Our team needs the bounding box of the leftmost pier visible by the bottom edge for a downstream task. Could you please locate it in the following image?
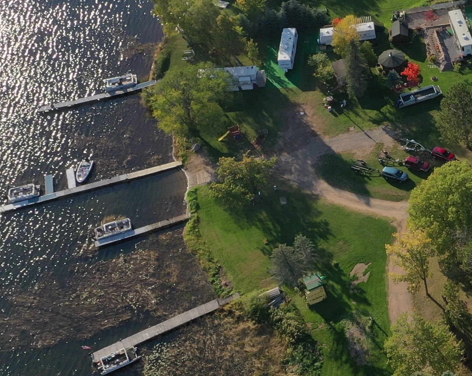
[92,299,227,361]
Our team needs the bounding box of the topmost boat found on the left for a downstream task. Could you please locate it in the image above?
[103,74,139,92]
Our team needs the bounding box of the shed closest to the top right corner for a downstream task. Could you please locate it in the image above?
[390,19,408,47]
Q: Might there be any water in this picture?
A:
Yes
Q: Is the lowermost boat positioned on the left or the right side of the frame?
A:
left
